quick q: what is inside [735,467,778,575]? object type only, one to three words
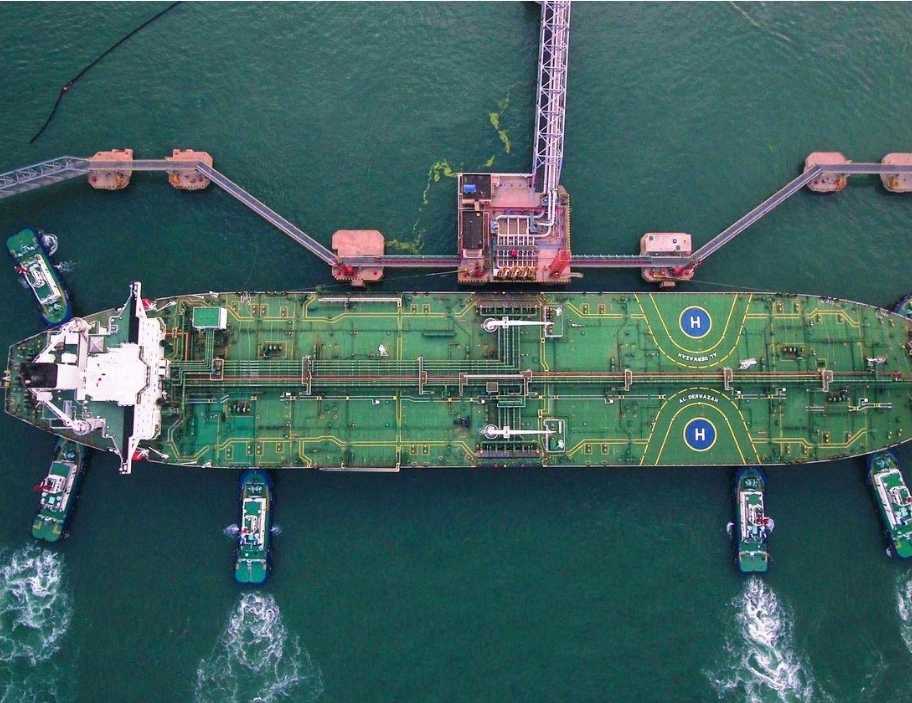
boat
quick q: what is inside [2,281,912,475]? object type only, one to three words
ship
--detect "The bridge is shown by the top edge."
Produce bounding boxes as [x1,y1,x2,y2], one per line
[533,0,573,211]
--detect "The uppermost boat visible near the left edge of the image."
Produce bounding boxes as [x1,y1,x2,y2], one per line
[5,229,66,327]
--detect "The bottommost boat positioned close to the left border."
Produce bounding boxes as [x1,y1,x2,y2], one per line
[25,437,82,544]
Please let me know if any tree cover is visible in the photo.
No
